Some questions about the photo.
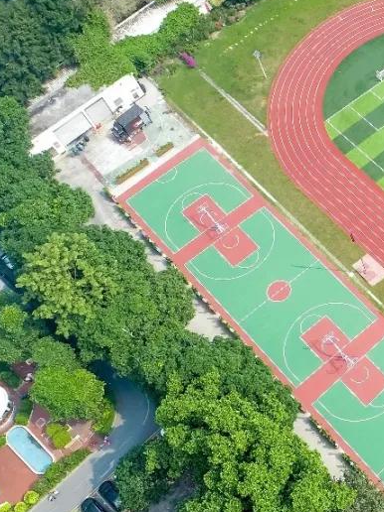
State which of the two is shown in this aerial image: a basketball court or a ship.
basketball court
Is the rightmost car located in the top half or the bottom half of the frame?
bottom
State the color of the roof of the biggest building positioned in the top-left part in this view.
white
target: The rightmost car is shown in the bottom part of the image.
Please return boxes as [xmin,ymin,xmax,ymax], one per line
[99,484,129,512]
